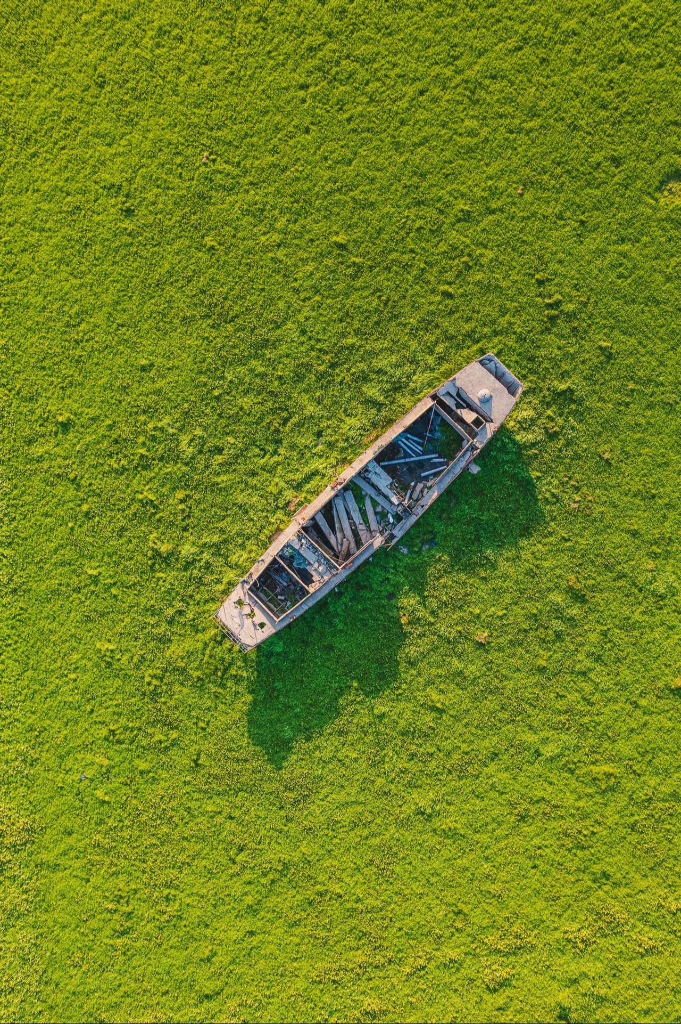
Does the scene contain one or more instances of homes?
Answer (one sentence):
No, there isn't any home down there.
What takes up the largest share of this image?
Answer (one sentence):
For the most part, this view shows grass.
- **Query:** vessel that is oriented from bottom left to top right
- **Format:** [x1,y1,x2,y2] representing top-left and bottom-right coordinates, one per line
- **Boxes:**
[213,354,523,653]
